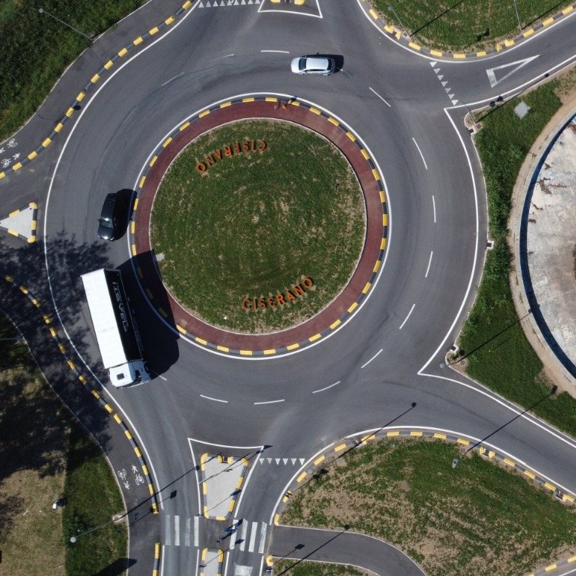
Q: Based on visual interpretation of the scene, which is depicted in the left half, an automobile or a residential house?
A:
automobile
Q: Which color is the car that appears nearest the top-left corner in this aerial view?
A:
black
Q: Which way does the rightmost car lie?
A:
from side to side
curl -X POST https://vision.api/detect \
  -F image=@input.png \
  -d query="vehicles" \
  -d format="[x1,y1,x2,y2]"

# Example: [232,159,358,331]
[80,268,154,395]
[291,56,334,78]
[93,193,124,242]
